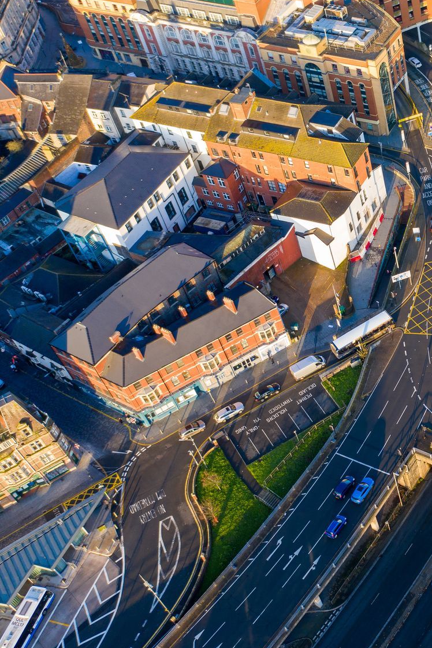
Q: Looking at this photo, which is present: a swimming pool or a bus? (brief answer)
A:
bus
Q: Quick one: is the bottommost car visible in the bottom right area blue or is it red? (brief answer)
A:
blue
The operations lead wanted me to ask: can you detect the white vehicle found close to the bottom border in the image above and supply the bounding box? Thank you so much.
[0,585,55,648]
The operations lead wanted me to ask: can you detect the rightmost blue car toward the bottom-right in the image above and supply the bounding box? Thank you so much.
[352,479,375,503]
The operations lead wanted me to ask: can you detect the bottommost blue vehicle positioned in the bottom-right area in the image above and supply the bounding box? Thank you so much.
[324,515,348,540]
